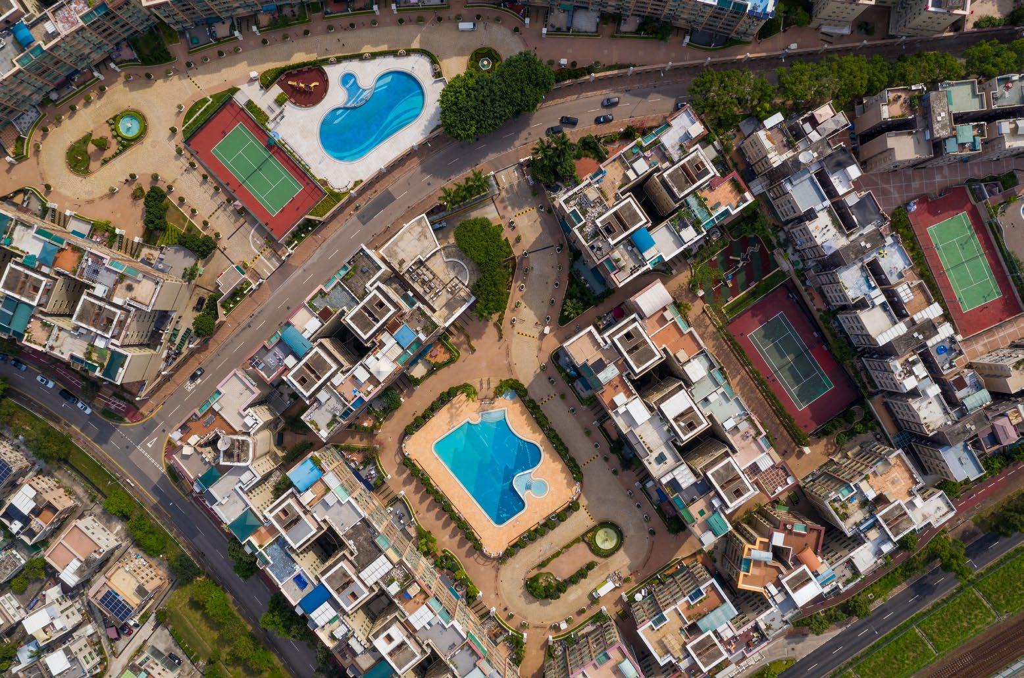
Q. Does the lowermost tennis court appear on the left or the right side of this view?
right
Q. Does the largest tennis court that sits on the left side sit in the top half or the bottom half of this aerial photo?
top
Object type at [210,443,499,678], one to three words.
building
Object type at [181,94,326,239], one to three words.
tennis court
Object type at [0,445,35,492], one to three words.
house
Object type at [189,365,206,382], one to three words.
car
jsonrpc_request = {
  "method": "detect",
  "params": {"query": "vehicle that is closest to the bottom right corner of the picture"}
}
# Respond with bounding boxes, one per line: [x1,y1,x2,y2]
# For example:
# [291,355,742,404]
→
[594,578,620,598]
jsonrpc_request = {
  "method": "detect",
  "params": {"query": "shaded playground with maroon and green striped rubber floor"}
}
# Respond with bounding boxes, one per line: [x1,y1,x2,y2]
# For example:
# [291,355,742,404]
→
[696,234,780,310]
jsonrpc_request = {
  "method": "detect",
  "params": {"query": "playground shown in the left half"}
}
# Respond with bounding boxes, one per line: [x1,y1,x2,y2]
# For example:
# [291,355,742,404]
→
[276,66,328,107]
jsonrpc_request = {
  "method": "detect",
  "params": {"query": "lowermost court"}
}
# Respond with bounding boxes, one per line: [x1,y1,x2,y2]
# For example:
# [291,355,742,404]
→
[728,279,865,435]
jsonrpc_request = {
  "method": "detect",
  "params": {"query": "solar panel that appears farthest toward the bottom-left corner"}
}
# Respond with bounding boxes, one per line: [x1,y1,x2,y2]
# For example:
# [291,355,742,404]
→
[99,590,133,622]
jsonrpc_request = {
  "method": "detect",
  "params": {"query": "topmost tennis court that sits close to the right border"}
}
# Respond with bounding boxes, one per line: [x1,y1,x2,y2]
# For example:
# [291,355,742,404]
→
[910,184,1024,336]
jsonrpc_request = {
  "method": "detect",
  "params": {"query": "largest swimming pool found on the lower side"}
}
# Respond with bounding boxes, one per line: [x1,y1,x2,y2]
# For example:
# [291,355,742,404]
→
[402,396,583,558]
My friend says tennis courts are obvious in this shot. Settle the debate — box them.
[181,94,326,239]
[910,184,1024,336]
[728,279,865,435]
